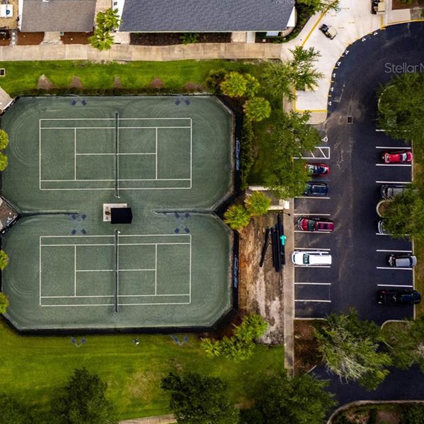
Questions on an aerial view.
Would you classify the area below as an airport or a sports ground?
sports ground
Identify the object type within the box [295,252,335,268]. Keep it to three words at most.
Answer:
car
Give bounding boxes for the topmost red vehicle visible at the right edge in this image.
[384,151,416,165]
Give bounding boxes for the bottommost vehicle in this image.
[382,292,423,308]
